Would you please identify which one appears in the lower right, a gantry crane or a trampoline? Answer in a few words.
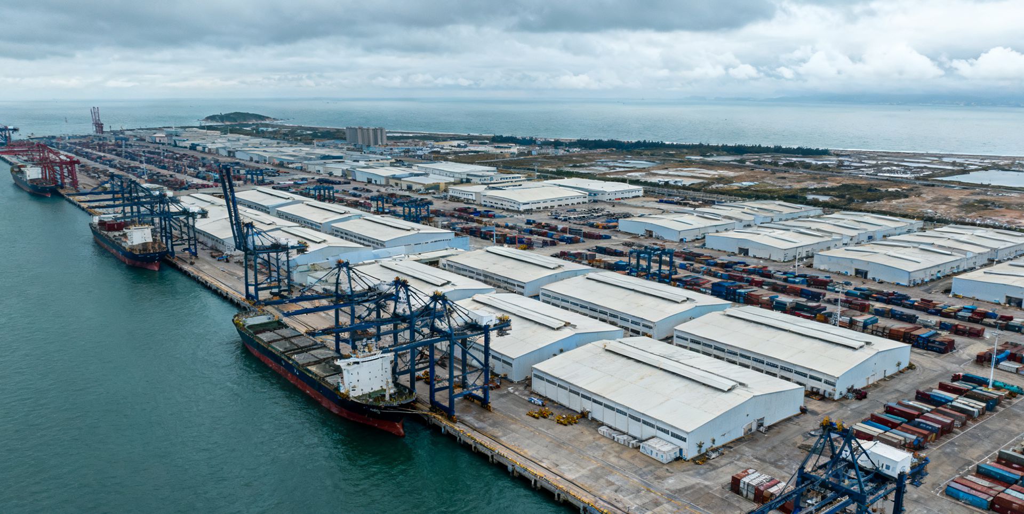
gantry crane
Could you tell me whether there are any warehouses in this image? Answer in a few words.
Yes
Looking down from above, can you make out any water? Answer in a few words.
Yes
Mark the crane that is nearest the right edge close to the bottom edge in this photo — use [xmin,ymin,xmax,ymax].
[749,418,924,514]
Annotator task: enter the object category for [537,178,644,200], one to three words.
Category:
building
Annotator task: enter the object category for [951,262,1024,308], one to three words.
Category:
building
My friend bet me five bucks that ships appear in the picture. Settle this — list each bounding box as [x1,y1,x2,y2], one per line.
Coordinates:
[86,217,170,270]
[11,164,54,194]
[235,306,426,436]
